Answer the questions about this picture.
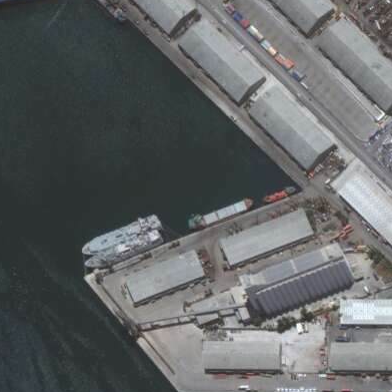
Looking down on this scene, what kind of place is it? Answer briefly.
port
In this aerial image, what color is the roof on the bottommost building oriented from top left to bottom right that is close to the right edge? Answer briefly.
white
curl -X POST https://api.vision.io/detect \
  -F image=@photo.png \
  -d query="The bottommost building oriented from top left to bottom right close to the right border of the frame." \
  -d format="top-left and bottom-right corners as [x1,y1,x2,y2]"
[329,158,392,245]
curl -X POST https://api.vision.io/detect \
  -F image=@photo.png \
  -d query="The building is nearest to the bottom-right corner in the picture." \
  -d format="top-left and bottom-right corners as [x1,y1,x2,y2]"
[327,341,392,373]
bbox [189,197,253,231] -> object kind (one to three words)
ship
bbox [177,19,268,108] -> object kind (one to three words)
building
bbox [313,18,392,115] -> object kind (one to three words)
building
